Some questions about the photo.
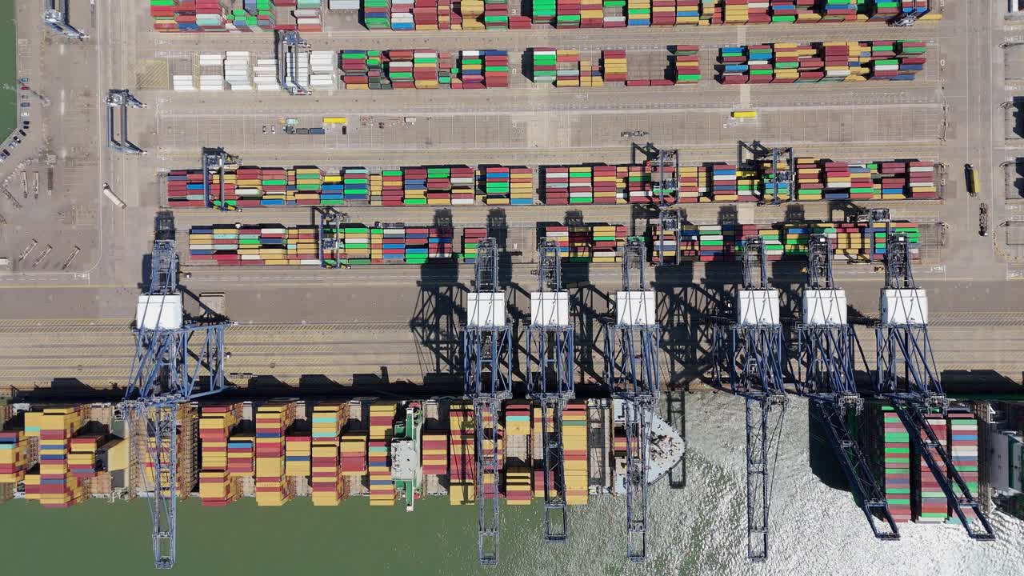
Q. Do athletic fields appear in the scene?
No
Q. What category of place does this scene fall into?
port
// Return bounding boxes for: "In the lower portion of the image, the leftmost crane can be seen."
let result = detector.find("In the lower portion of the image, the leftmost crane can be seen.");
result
[119,241,245,571]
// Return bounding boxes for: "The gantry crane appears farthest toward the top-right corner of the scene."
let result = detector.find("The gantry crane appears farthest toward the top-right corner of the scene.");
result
[883,0,929,27]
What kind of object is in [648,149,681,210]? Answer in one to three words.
container crane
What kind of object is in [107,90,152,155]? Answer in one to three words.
container crane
